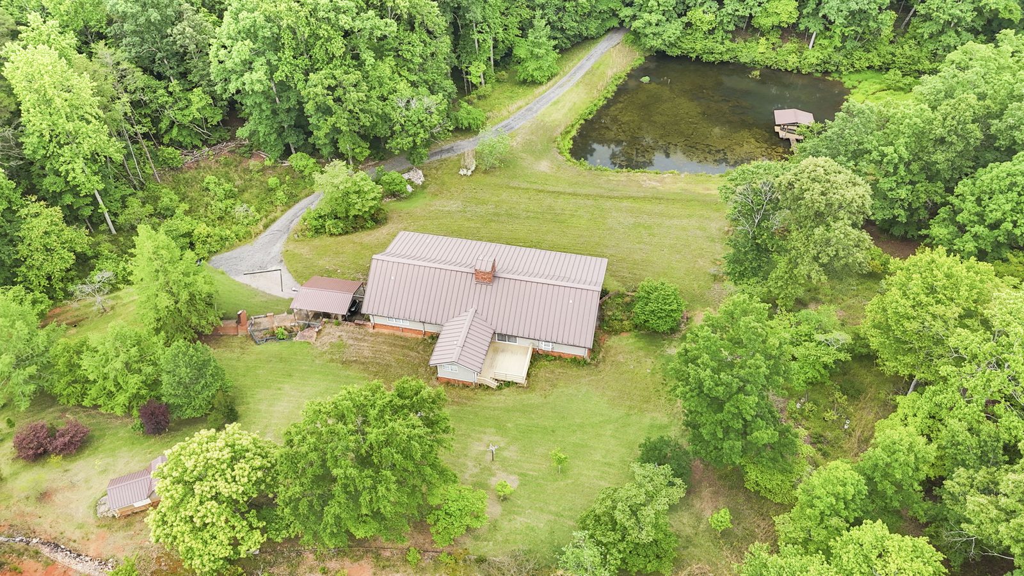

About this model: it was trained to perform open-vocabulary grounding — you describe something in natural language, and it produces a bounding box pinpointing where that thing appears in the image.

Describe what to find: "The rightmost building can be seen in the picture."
[362,230,606,392]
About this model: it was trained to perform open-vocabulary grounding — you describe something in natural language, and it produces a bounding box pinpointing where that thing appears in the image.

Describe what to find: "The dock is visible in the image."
[771,107,815,153]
